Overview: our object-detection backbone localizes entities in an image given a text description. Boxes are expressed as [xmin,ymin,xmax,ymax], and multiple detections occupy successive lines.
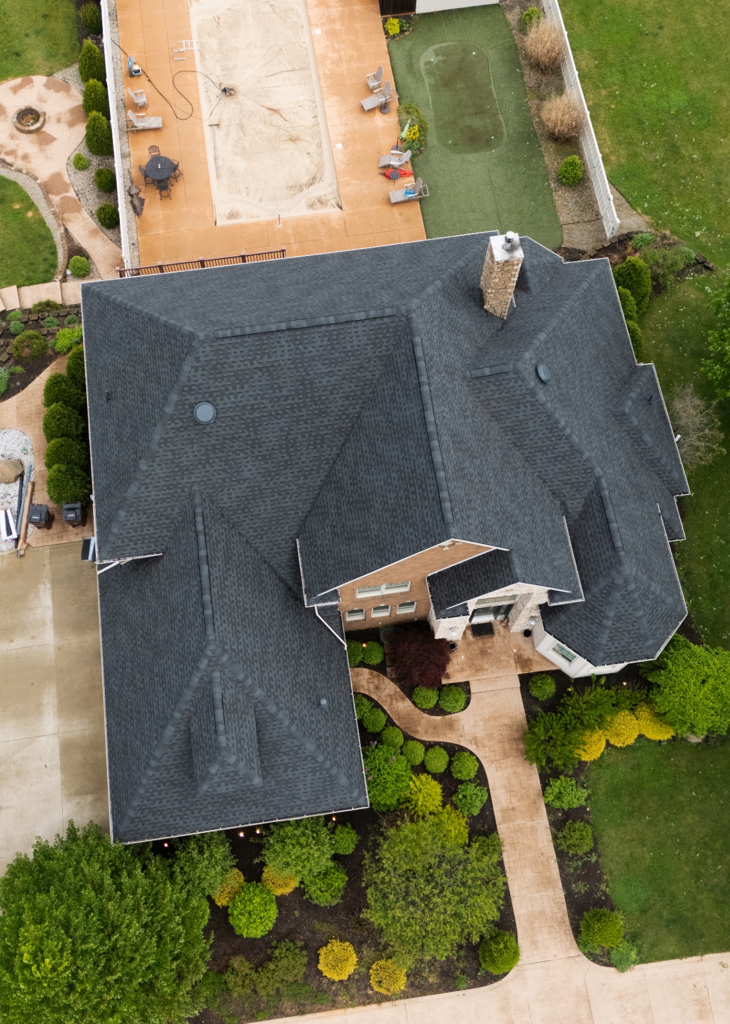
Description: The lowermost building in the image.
[77,229,693,846]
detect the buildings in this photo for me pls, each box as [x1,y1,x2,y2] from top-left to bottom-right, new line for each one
[379,0,499,17]
[77,229,693,846]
